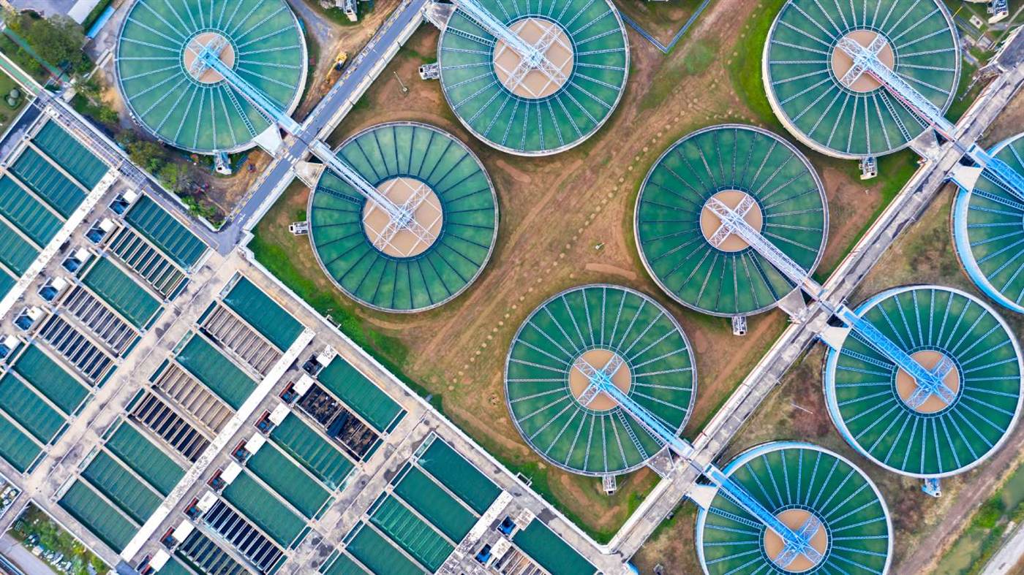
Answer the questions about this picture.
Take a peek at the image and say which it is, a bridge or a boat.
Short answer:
bridge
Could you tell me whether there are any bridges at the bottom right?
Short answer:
Yes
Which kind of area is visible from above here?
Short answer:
industrial area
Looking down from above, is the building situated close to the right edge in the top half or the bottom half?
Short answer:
top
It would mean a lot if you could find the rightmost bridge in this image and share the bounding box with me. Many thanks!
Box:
[962,144,1024,205]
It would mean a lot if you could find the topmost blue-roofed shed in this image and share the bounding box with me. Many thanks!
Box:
[87,6,117,39]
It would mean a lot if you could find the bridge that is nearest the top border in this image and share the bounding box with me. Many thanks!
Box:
[450,0,549,72]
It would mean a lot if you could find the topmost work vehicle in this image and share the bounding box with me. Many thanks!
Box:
[325,48,351,76]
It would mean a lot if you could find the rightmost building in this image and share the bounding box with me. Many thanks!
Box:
[971,9,1024,95]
